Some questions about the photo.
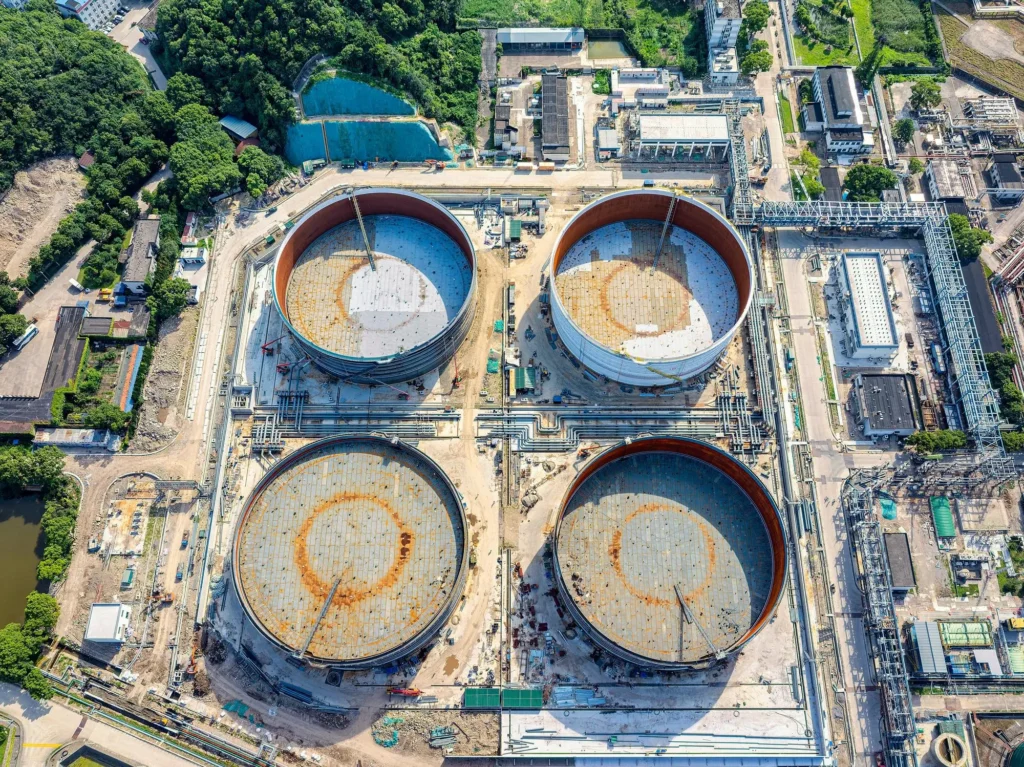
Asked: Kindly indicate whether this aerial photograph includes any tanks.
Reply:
Yes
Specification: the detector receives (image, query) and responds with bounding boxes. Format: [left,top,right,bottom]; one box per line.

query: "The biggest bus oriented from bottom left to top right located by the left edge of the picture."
[10,320,38,346]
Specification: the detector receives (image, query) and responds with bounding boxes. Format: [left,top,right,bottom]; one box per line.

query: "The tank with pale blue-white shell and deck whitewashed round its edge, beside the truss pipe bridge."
[549,185,754,385]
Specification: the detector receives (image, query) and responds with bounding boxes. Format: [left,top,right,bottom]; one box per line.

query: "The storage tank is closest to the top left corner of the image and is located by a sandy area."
[272,182,476,384]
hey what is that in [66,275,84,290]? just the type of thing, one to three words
vehicle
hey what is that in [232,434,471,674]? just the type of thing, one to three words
storage tank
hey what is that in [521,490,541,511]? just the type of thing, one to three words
vehicle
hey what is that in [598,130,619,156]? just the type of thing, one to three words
house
